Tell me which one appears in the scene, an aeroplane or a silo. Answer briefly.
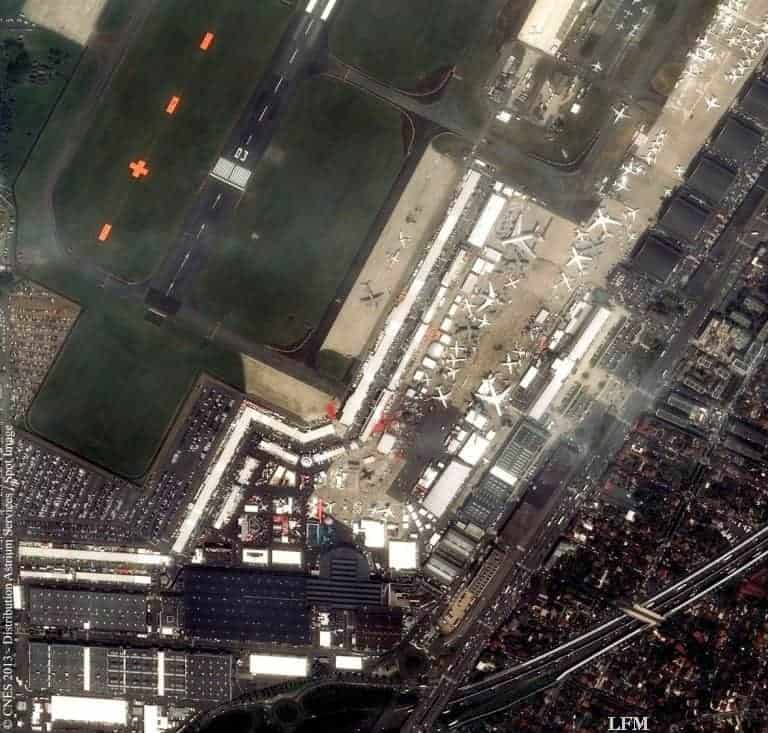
aeroplane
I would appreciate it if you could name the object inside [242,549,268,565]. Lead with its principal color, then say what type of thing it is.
white tent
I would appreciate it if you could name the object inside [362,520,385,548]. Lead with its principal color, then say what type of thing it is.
white tent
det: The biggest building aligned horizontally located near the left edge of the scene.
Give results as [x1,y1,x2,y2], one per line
[26,645,232,704]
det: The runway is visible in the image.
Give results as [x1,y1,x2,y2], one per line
[145,0,346,317]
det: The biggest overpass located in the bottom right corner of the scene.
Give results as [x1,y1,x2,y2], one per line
[592,590,697,638]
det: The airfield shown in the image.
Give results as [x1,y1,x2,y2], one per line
[0,0,768,542]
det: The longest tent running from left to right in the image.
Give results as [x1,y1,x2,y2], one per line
[19,547,166,565]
